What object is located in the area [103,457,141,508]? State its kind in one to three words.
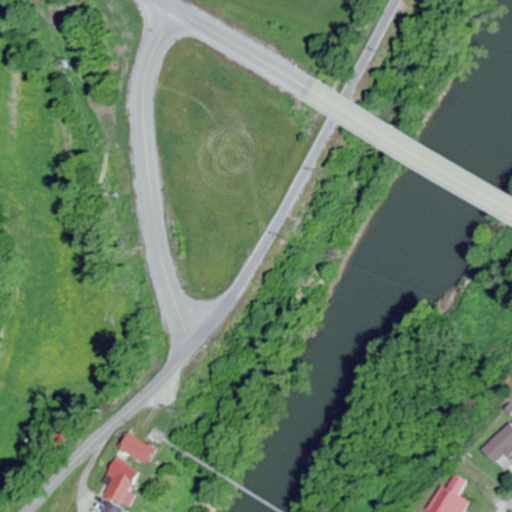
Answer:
house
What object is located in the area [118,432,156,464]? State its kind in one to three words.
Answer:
shed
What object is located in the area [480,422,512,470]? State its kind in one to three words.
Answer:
house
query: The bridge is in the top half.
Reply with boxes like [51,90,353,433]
[304,79,512,226]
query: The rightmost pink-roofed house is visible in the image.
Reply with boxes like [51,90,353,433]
[423,475,470,512]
